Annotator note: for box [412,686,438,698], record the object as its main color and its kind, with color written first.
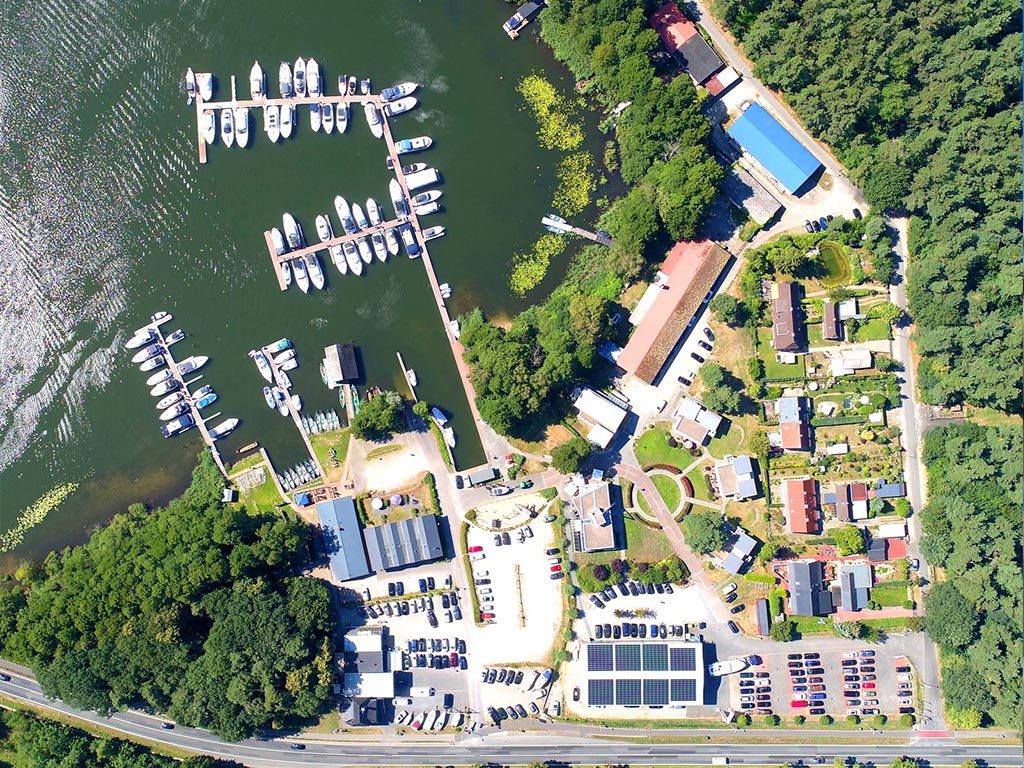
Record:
white vehicle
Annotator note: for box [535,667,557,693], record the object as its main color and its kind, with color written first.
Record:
white boat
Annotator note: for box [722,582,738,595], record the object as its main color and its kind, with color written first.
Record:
white vehicle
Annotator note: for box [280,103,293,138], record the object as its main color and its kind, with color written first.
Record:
white boat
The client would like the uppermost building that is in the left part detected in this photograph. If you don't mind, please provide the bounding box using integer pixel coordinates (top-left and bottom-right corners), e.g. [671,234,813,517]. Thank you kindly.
[323,344,359,388]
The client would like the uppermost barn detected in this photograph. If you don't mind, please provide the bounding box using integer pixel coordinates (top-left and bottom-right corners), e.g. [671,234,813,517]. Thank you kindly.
[649,1,697,55]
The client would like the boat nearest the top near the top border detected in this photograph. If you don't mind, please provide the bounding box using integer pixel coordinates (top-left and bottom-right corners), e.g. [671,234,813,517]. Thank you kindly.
[503,0,549,33]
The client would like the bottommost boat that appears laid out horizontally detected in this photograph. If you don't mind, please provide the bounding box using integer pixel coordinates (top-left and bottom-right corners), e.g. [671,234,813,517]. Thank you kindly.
[710,659,750,677]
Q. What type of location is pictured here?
port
